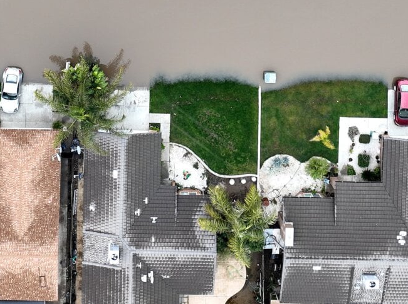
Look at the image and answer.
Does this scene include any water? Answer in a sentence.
Yes, there's water in this view.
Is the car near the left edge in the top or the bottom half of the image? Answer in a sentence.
The car near the left edge sits in the top half of the picture.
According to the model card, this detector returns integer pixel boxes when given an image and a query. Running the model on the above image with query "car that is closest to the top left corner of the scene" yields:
[0,63,25,114]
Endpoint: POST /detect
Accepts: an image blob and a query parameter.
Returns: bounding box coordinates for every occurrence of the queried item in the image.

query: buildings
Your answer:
[281,136,408,304]
[81,129,216,304]
[0,126,62,300]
